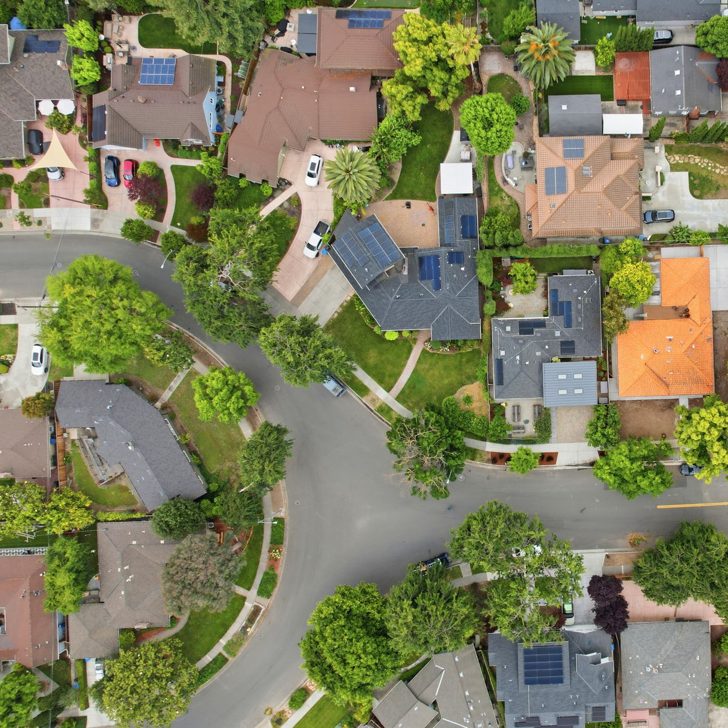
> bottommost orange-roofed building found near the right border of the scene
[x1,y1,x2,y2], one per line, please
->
[616,257,715,398]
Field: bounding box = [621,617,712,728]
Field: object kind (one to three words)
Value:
house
